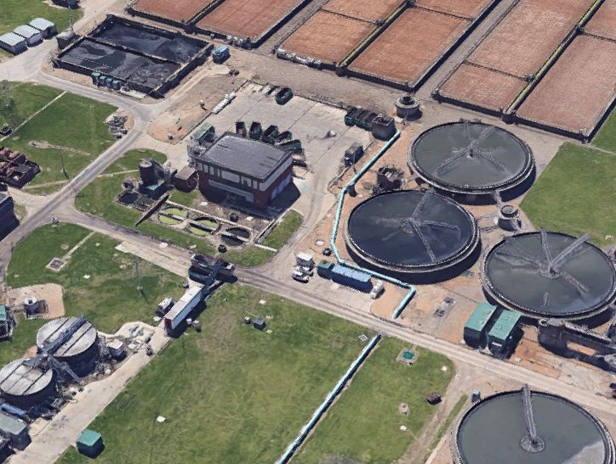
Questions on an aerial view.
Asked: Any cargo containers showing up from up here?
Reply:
Yes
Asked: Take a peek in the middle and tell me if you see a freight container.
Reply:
Yes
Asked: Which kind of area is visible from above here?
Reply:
industrial area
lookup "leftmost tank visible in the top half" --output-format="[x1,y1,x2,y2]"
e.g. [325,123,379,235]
[0,152,47,193]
